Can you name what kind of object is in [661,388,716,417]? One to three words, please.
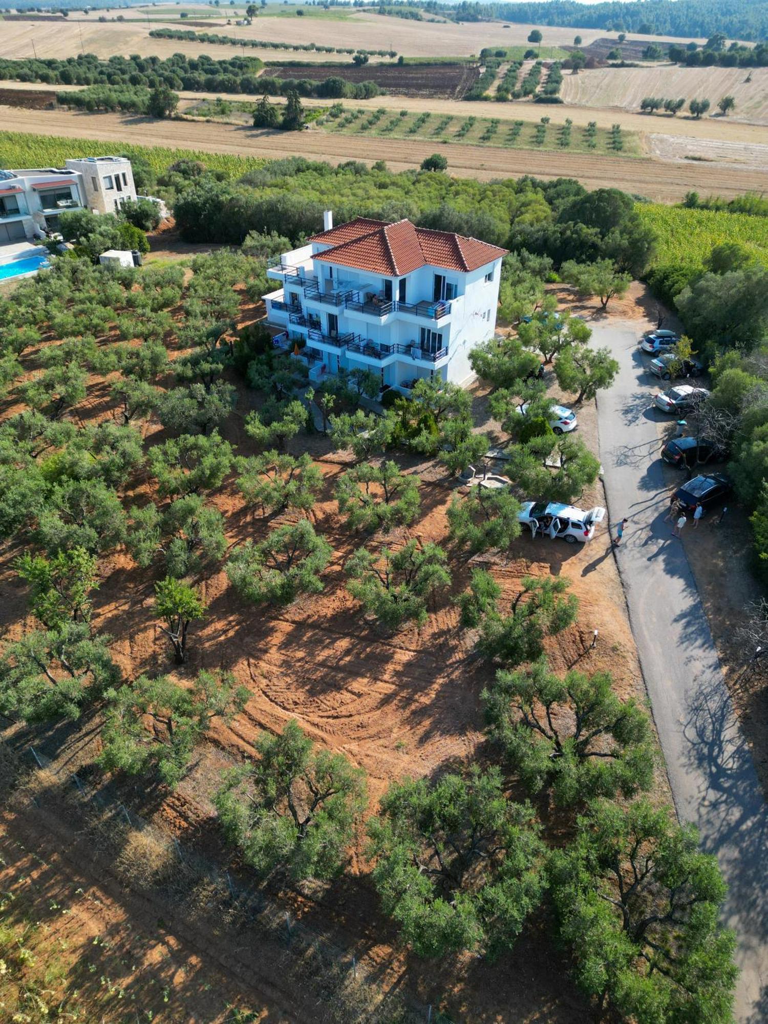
car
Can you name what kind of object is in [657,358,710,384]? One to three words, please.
car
